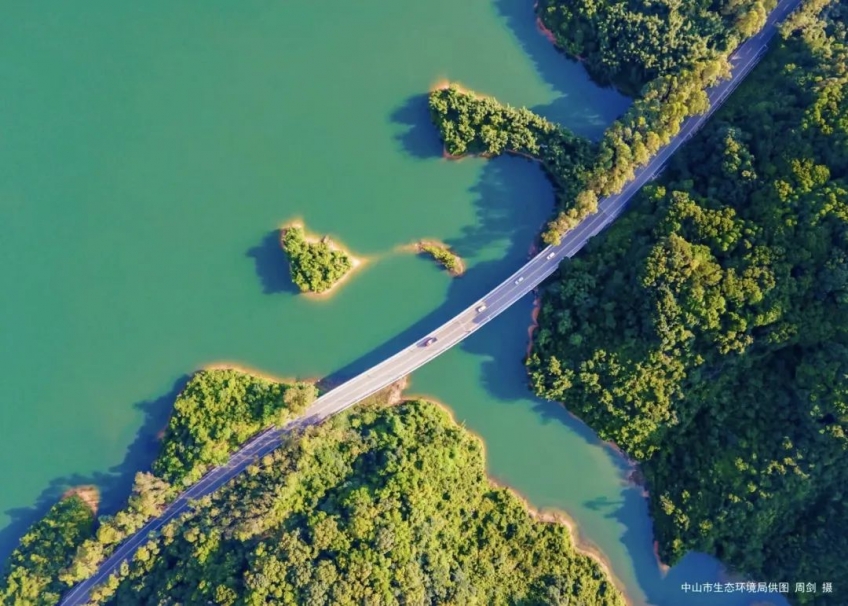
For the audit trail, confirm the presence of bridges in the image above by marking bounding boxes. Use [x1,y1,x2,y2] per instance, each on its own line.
[293,203,613,430]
